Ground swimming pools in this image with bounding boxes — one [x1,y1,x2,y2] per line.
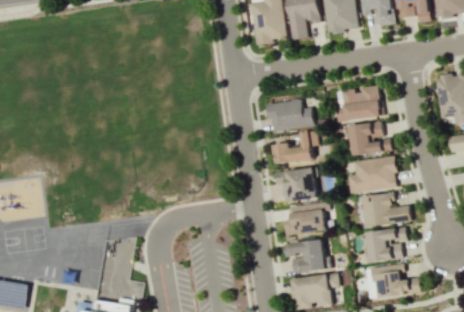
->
[354,236,364,254]
[324,176,334,192]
